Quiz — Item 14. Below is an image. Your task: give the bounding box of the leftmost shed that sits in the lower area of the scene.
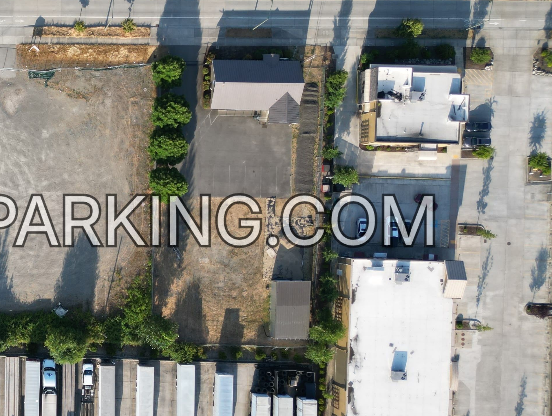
[268,280,310,340]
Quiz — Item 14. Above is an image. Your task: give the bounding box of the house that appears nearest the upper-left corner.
[209,52,310,123]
